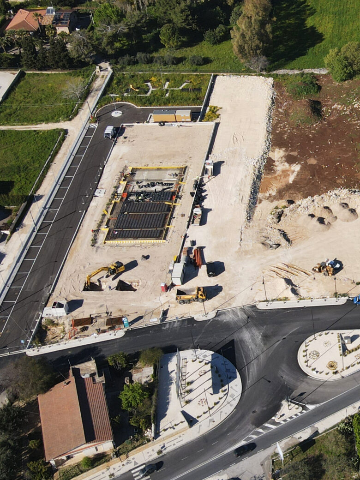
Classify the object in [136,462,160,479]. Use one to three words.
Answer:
car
